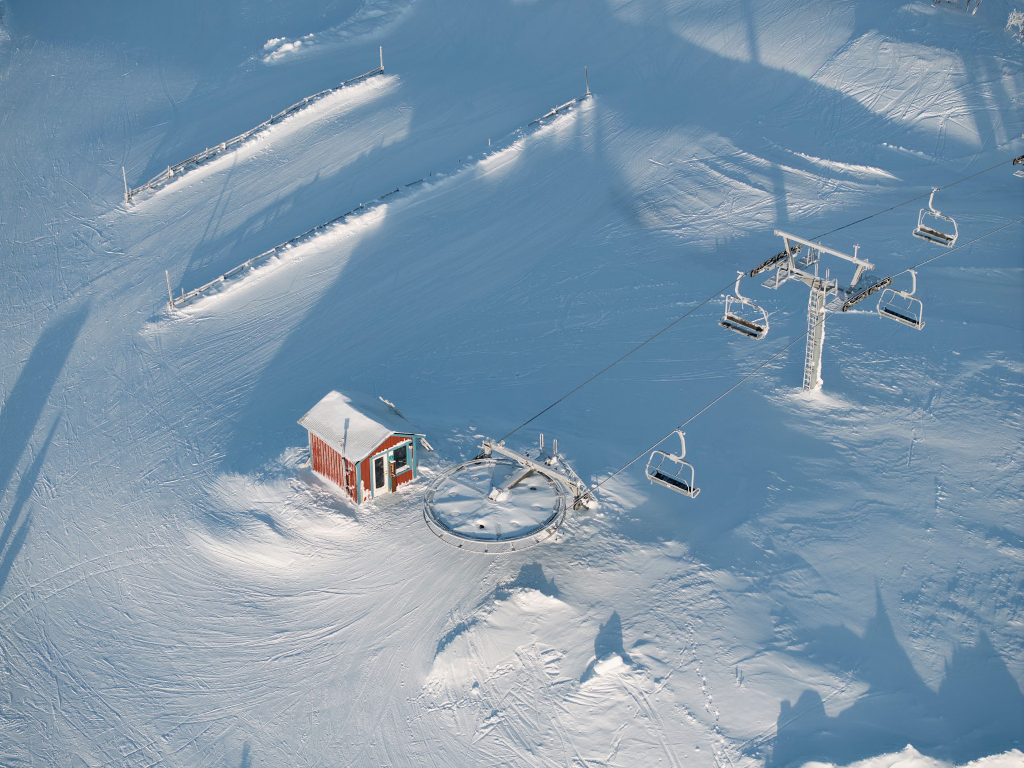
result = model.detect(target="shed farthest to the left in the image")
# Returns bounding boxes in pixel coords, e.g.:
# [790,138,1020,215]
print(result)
[300,388,426,504]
